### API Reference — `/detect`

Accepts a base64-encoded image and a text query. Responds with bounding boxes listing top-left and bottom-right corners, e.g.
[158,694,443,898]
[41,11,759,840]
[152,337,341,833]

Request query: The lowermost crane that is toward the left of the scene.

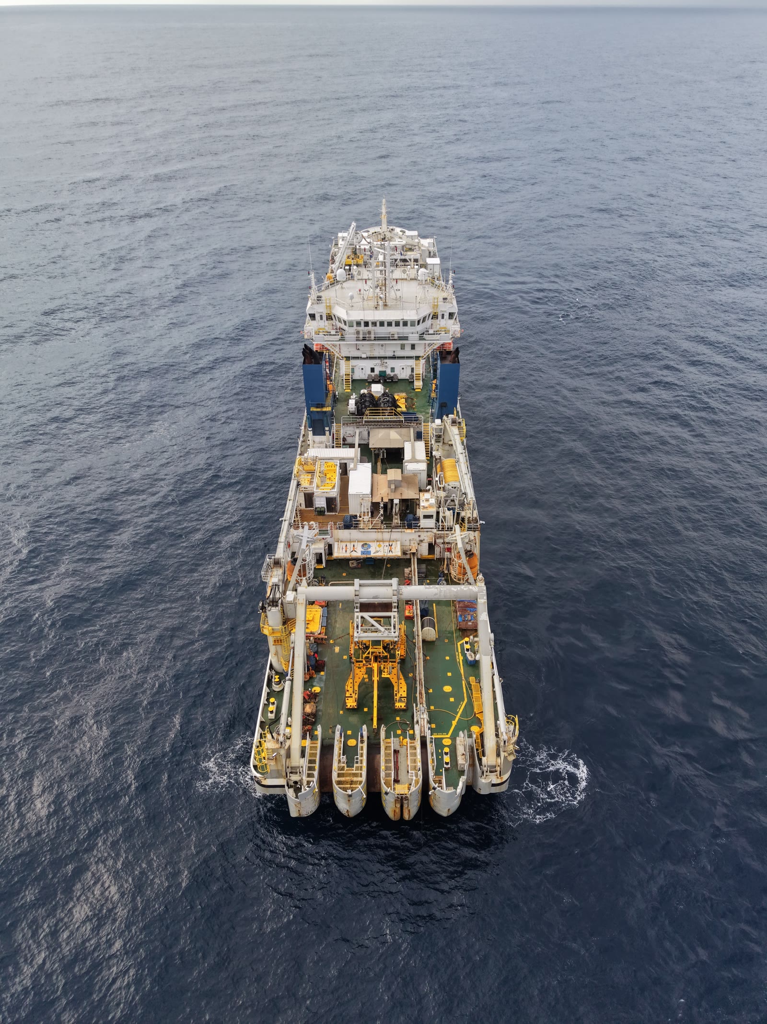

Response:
[256,469,310,673]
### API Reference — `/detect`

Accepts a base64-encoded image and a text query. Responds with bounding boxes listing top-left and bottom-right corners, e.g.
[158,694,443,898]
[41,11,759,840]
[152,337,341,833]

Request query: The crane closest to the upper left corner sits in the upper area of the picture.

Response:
[332,219,385,280]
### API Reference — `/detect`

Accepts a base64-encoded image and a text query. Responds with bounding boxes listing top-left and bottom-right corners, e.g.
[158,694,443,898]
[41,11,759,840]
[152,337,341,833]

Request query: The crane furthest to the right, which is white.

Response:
[431,405,477,539]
